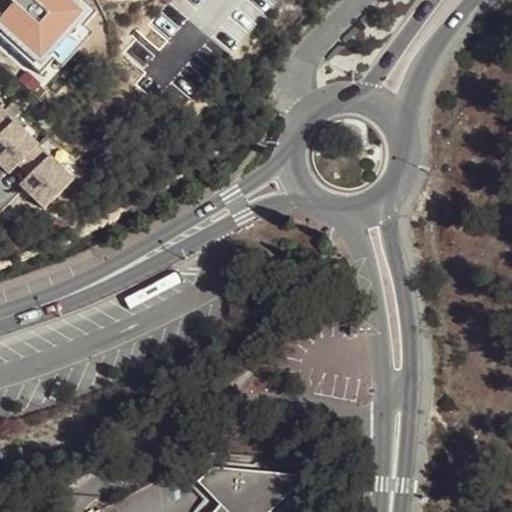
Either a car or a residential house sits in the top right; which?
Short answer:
car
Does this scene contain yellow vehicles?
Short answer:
No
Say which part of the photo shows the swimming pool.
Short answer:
top left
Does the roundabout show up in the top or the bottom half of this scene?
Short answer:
top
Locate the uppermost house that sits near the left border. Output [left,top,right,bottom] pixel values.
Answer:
[0,0,92,62]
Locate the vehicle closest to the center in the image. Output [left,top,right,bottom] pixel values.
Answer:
[195,202,216,218]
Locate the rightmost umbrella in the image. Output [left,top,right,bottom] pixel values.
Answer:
[55,149,68,162]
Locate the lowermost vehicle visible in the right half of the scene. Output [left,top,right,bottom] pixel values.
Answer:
[338,84,362,101]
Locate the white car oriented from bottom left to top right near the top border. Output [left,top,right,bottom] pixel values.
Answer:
[446,9,464,28]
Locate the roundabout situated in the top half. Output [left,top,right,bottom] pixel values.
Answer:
[256,80,422,259]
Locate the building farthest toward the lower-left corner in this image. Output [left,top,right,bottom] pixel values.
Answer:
[70,474,102,512]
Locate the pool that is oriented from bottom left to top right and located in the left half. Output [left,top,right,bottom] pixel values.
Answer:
[55,36,78,60]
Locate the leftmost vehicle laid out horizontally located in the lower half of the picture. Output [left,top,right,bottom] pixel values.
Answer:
[16,310,42,324]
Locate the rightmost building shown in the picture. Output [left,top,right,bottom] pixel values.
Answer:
[200,468,291,512]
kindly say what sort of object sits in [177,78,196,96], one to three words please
car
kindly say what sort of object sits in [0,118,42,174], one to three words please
house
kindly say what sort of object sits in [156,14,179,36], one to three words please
vehicle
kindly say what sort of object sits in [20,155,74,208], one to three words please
house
